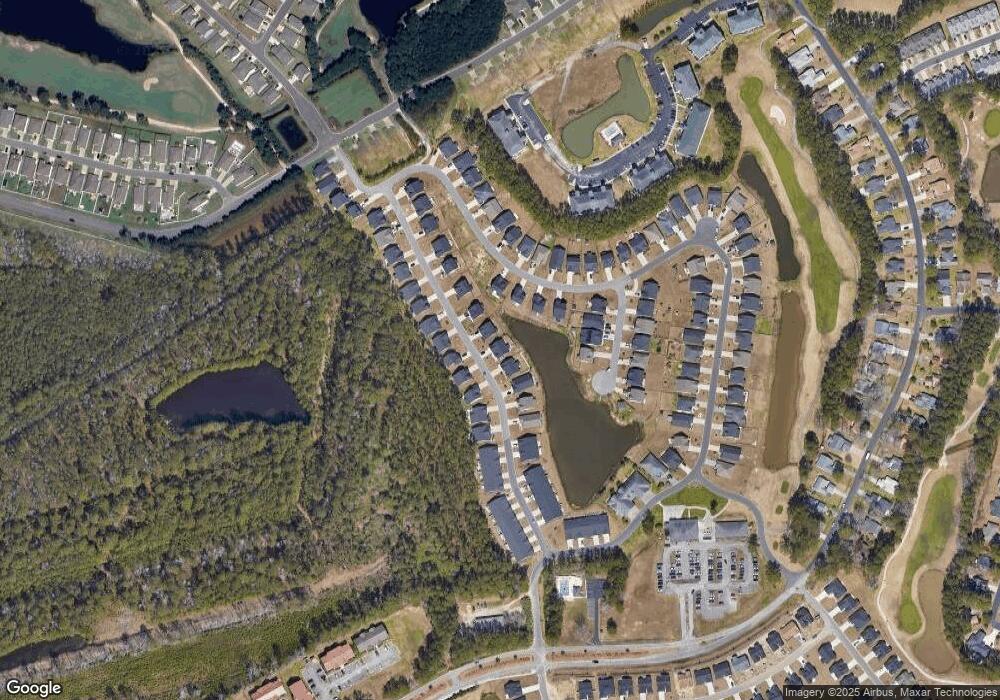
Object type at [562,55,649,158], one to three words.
pond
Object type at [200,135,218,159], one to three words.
house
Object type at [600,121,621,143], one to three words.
swimming pool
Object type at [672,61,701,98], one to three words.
building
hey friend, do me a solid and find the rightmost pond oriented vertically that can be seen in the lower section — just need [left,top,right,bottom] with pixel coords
[911,569,956,674]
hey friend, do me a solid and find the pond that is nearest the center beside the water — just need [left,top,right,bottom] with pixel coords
[502,315,644,509]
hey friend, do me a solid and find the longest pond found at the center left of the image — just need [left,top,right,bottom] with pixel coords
[157,361,312,431]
